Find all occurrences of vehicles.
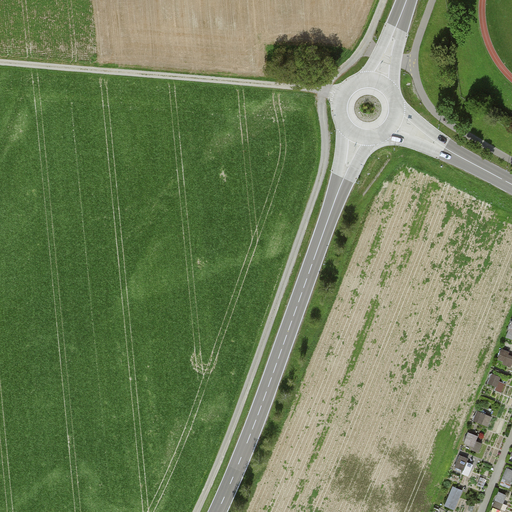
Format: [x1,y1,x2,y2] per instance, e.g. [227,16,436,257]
[391,136,404,142]
[440,152,452,159]
[437,134,448,143]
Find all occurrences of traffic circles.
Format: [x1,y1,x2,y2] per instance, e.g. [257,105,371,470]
[330,23,449,182]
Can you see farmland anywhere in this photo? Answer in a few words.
Yes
